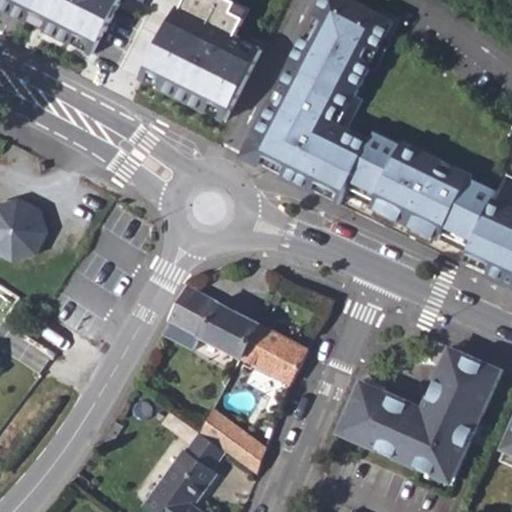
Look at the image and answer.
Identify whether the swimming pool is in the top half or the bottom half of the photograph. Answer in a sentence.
You can find the swimming pool in the bottom half.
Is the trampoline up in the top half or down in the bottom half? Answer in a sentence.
Seen from above, the trampoline lies in the bottom half of the view.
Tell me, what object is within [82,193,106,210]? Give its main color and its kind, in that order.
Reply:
gray car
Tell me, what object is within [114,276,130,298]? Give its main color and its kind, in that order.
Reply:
white car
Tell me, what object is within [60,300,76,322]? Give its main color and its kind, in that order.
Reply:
gray car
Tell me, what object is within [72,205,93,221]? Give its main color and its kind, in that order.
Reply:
white car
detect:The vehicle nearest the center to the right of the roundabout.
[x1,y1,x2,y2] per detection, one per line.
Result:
[302,228,326,244]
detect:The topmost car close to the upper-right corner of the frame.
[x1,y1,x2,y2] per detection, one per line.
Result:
[473,71,492,89]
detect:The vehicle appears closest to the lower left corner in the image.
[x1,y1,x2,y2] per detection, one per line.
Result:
[41,330,70,351]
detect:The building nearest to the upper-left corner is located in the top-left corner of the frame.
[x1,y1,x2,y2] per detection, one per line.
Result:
[0,0,114,54]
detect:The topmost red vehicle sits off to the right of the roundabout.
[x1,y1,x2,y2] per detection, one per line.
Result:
[333,223,355,238]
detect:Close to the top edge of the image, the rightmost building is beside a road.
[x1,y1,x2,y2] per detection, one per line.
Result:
[240,0,396,202]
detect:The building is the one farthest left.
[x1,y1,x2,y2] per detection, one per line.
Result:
[0,192,50,266]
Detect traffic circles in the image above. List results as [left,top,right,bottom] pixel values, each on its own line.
[160,156,270,282]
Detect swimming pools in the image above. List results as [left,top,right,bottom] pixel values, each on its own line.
[224,392,256,413]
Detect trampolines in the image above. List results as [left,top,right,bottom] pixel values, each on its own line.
[134,400,153,420]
